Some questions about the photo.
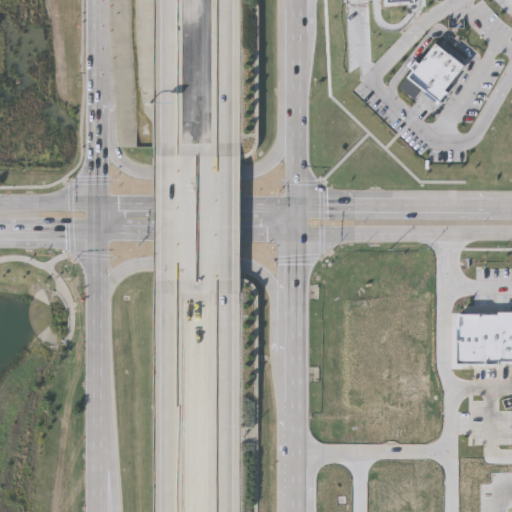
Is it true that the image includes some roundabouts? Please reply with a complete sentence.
No, the scene contains no roundabout.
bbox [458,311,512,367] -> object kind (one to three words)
building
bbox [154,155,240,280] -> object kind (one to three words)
overpass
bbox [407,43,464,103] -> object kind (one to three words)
building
